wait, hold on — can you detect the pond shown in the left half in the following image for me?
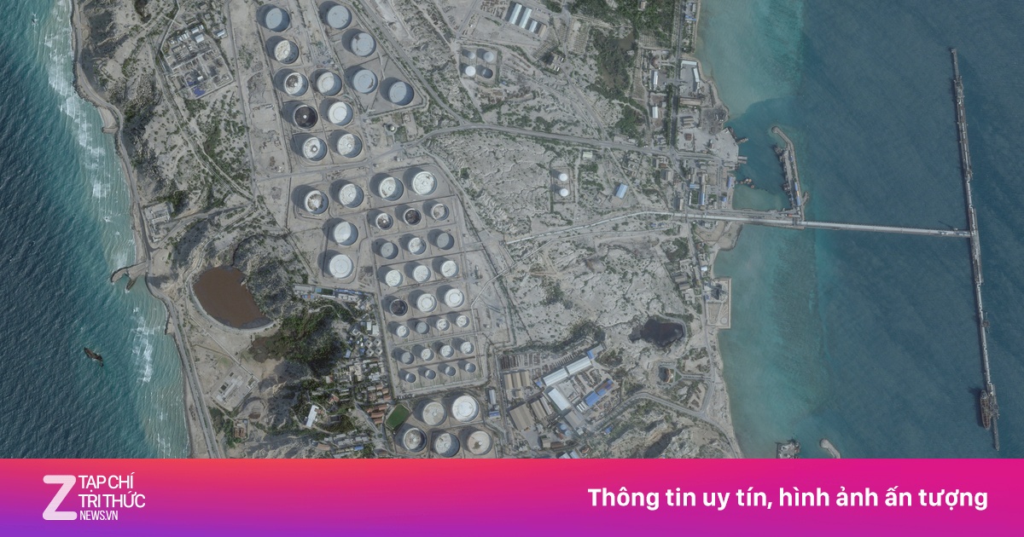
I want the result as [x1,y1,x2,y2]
[193,266,270,328]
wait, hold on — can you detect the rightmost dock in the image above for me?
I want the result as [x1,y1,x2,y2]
[952,48,998,449]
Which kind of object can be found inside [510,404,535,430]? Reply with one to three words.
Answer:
building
